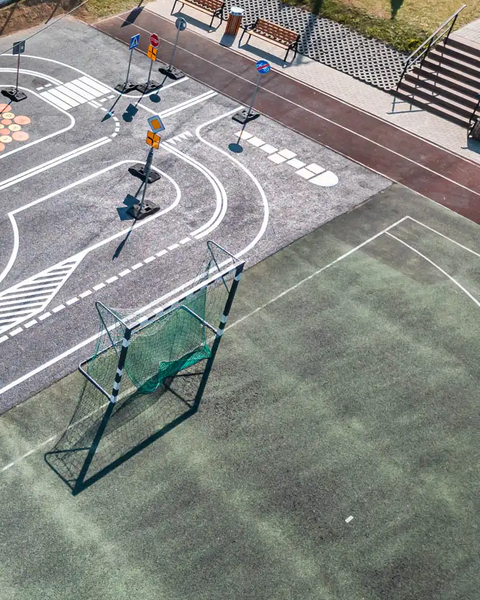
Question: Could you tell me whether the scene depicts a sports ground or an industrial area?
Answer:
sports ground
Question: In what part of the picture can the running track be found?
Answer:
top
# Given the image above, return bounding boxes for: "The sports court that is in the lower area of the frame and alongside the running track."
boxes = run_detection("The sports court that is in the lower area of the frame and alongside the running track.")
[0,185,480,600]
